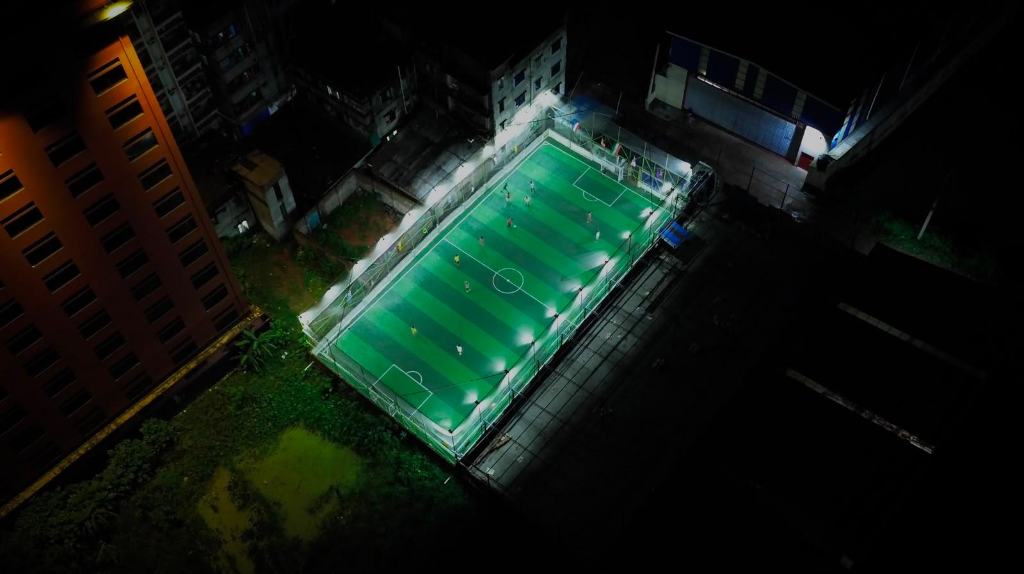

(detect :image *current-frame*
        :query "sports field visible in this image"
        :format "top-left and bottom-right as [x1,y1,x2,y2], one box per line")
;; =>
[311,133,684,465]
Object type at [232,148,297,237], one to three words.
shed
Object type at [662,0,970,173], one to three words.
warehouse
